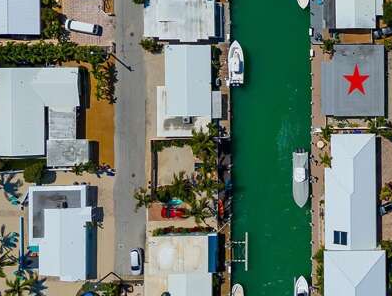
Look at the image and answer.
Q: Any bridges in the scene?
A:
No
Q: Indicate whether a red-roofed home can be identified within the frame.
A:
No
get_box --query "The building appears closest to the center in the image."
[157,45,223,138]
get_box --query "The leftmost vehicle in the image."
[66,19,104,37]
